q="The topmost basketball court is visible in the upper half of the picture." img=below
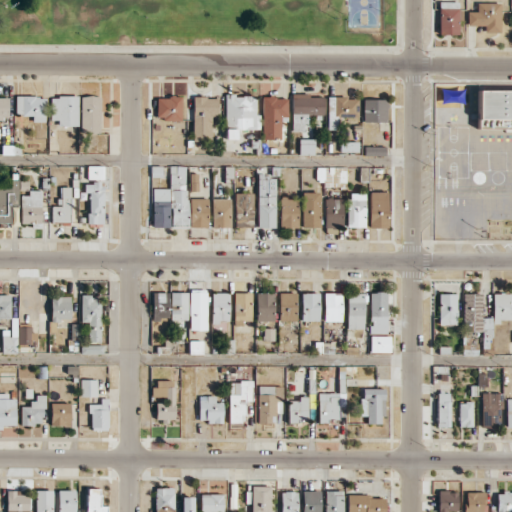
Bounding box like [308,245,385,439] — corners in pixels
[348,0,384,33]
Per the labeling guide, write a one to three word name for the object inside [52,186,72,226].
house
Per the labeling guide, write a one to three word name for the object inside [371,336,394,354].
shed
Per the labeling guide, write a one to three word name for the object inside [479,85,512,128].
building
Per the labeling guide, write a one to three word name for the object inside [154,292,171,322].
house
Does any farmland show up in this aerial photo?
No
